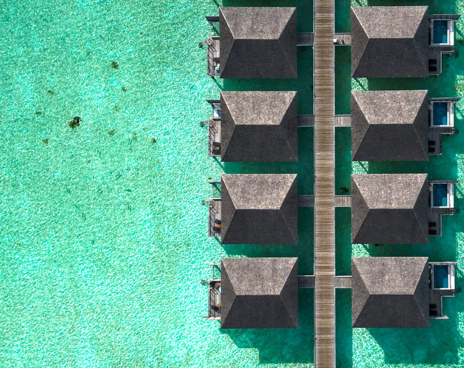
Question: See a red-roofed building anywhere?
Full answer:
No, the picture doesn't show any red-roofed building.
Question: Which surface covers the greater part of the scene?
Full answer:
The largest share of the image is taken up by water.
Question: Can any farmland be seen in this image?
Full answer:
No, farmland can't be seen anywhere here.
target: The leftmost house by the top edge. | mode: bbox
[201,6,297,79]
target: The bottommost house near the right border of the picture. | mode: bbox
[352,256,462,329]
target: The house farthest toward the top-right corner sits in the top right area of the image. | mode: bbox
[351,5,461,78]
